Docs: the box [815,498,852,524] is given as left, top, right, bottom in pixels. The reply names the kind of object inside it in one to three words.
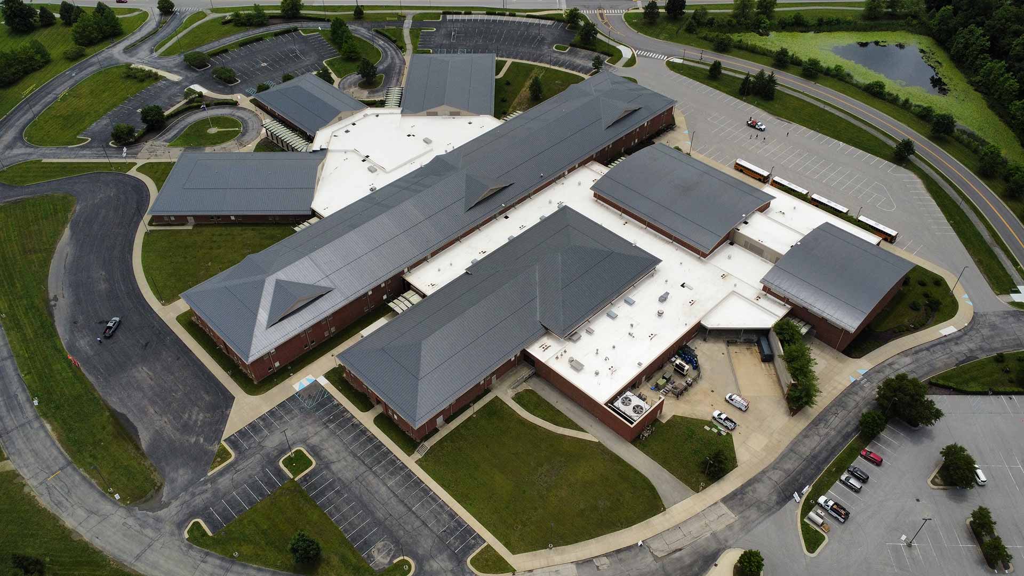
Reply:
truck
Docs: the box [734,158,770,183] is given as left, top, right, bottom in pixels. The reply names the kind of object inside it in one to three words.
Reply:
bus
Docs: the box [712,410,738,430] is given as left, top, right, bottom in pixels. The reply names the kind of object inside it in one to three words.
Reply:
vehicle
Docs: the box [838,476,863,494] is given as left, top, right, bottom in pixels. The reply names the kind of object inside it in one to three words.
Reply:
car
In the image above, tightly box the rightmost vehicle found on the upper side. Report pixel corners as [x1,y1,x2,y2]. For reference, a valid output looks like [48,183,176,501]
[855,216,899,242]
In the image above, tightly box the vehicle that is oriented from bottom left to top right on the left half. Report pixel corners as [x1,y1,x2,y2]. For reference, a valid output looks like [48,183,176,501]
[102,318,120,336]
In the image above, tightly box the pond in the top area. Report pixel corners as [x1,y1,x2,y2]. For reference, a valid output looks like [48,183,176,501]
[834,42,942,95]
